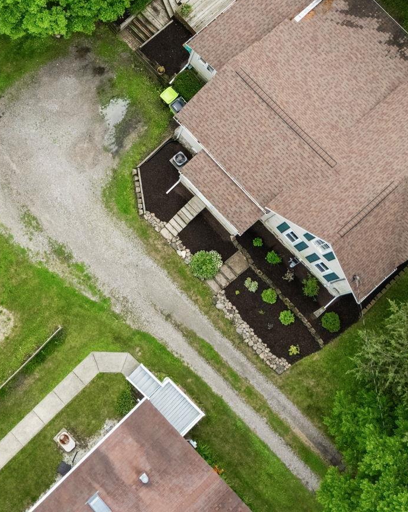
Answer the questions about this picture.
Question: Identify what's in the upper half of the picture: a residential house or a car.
residential house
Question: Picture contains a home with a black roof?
No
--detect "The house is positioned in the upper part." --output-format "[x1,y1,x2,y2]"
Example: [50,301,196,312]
[166,0,408,308]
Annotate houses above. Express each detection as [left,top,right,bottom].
[30,397,252,512]
[166,0,408,308]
